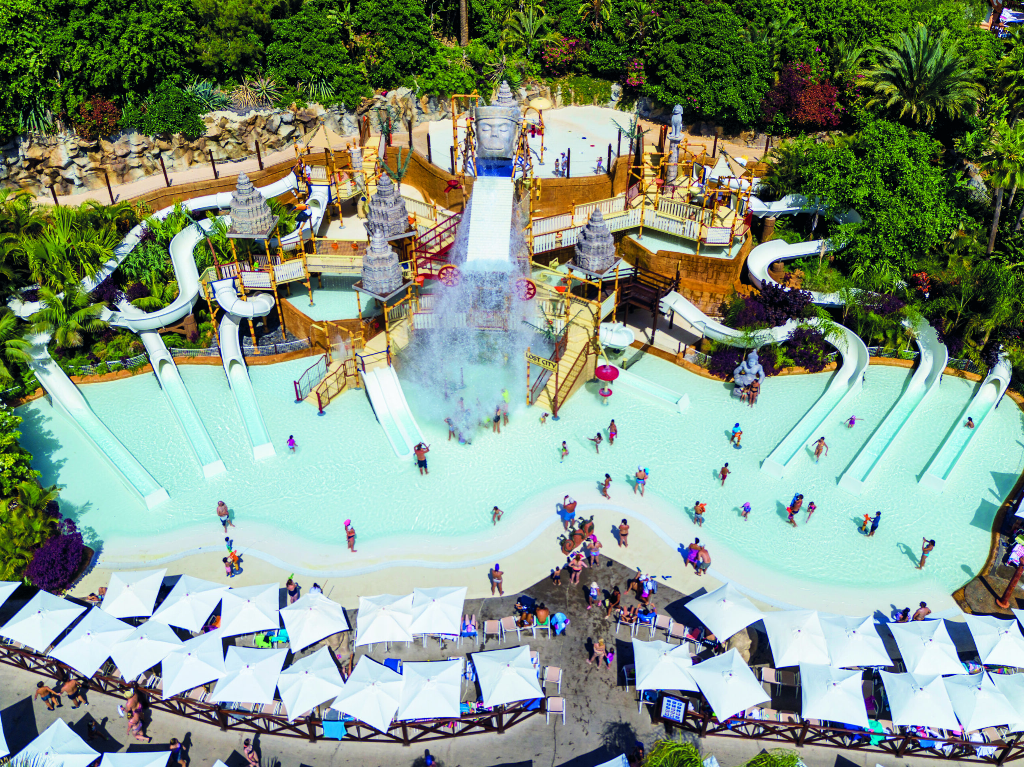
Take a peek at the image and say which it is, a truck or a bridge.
bridge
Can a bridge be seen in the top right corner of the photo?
No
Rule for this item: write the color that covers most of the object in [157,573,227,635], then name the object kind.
white umbrella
